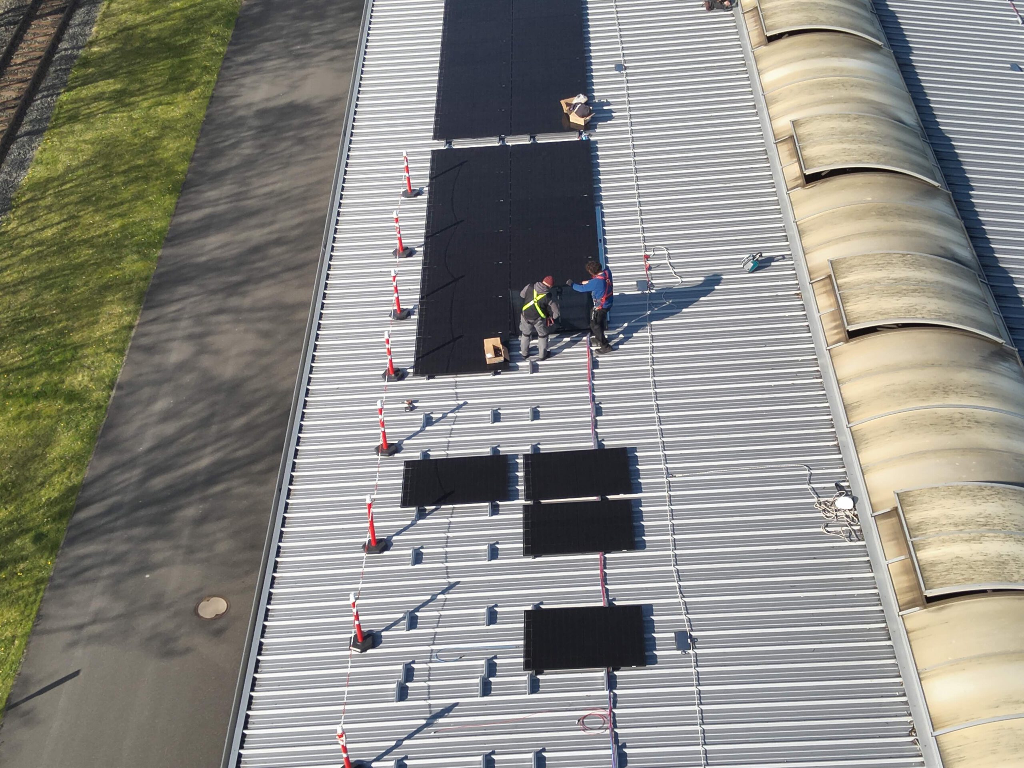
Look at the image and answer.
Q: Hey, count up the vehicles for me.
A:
0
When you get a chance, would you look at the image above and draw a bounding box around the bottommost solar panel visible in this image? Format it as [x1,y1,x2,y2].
[524,606,645,671]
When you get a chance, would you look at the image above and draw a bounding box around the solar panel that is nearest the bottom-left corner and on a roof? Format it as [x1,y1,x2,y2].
[399,456,506,512]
